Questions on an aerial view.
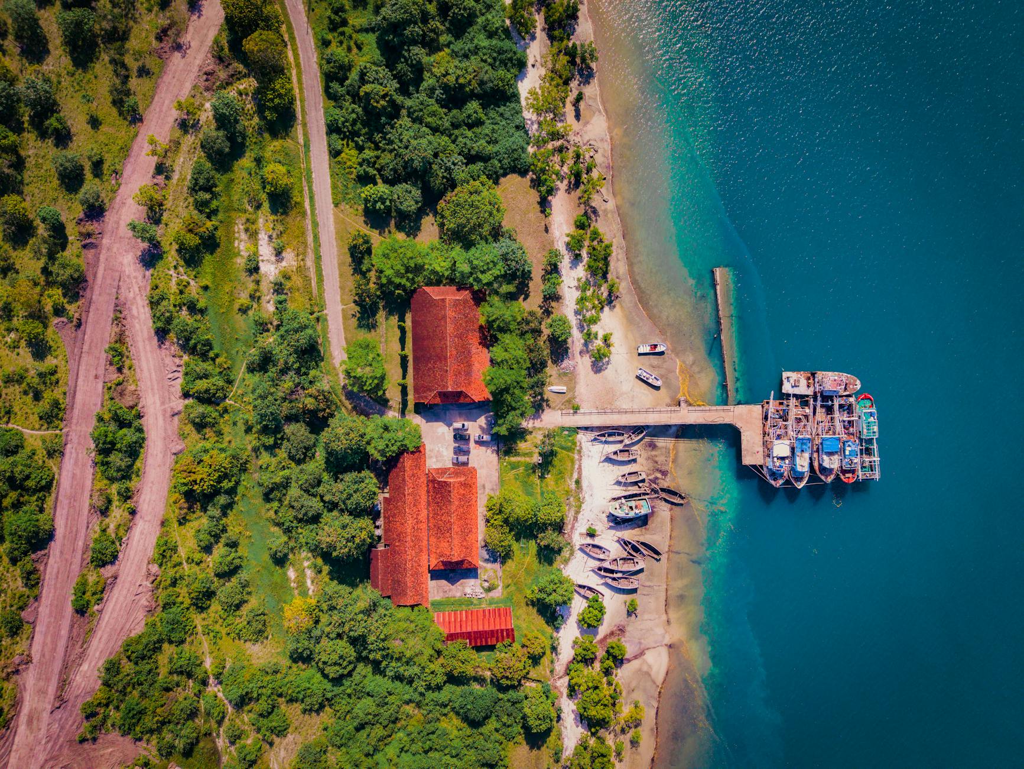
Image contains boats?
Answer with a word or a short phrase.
Yes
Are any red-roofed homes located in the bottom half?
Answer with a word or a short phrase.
Yes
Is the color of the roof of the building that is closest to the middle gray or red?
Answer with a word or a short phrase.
red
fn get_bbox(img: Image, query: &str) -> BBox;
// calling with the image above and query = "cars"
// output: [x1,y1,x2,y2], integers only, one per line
[453,433,471,441]
[452,422,469,430]
[452,455,469,462]
[473,434,491,441]
[453,444,471,452]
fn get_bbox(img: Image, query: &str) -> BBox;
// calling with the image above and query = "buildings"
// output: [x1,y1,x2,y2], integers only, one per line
[428,467,478,570]
[384,438,429,613]
[436,605,516,643]
[411,284,492,405]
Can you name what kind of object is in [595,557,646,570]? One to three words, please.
boat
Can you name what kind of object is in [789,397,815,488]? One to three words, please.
boat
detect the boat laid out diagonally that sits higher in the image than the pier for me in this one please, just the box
[636,368,661,385]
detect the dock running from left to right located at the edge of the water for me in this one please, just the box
[514,405,764,465]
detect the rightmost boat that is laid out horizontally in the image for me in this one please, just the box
[780,371,862,395]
